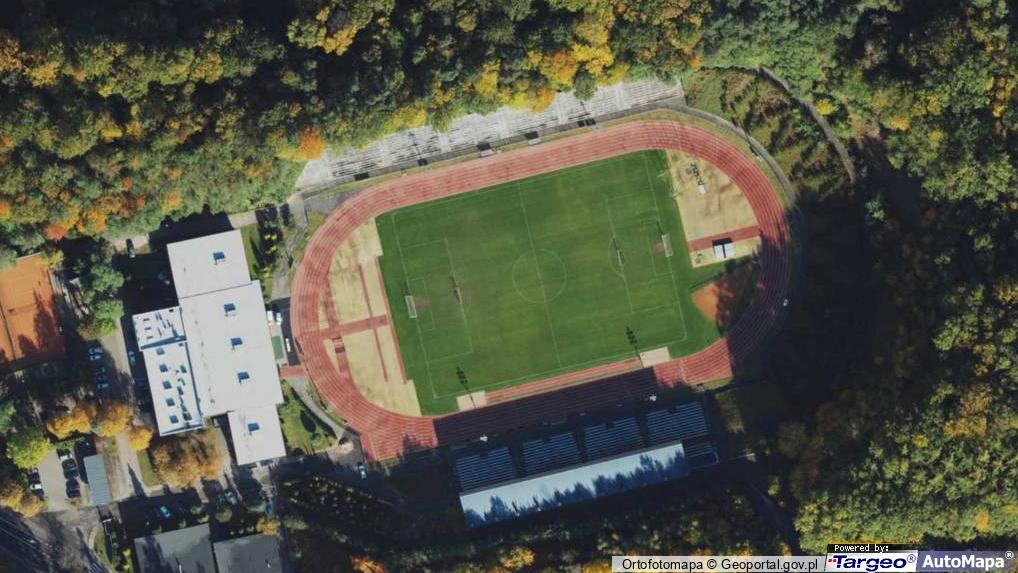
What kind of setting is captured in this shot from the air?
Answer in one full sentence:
This image shows a sports ground.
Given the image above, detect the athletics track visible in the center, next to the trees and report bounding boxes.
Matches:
[279,121,792,461]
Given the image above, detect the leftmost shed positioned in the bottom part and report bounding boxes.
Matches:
[84,454,112,505]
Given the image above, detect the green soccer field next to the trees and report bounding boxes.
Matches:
[375,151,762,415]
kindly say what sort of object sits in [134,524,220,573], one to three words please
building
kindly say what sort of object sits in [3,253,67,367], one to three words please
tennis court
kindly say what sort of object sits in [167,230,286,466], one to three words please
building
